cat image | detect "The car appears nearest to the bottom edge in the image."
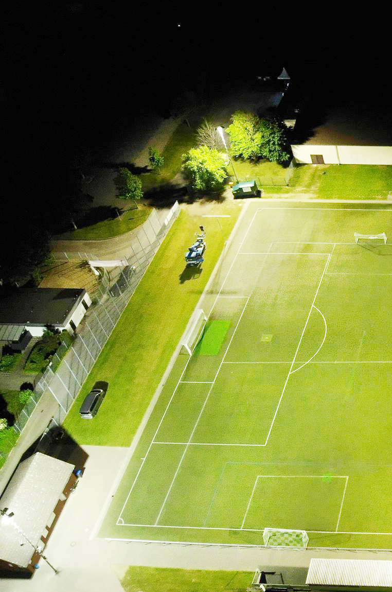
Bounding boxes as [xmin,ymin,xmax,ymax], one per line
[79,388,104,418]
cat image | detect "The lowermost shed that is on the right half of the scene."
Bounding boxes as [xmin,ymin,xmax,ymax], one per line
[230,181,264,200]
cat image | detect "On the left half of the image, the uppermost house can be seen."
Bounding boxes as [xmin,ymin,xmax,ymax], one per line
[0,287,93,340]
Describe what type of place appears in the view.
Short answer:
sports ground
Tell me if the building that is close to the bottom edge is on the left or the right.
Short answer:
left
